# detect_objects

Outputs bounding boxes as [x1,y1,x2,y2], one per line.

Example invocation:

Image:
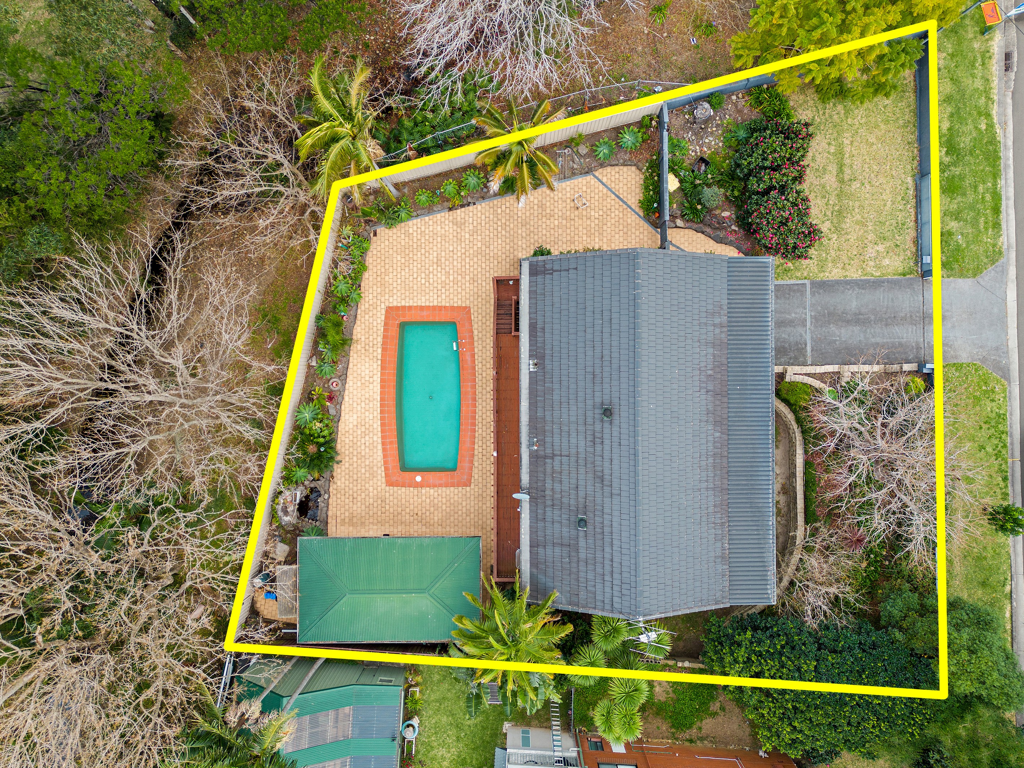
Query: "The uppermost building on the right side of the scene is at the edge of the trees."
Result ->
[520,242,779,625]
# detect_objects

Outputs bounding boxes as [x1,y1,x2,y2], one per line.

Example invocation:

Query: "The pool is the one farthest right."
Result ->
[380,305,476,488]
